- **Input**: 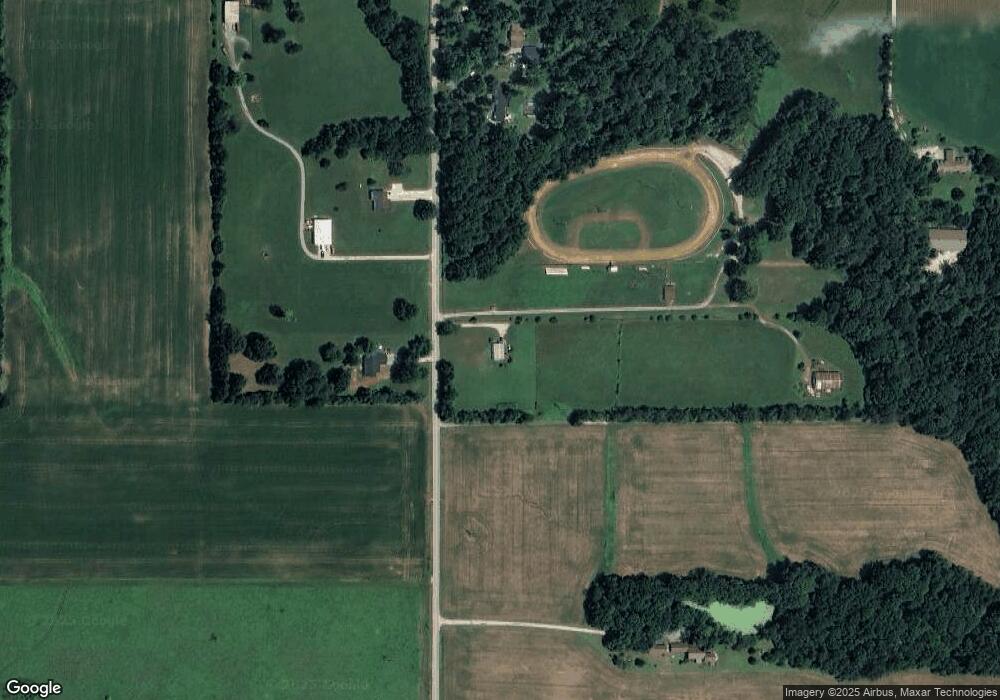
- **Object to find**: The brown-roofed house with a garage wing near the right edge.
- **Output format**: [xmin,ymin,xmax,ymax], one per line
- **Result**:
[939,149,972,173]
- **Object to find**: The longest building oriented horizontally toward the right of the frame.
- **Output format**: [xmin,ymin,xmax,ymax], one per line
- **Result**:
[656,642,718,663]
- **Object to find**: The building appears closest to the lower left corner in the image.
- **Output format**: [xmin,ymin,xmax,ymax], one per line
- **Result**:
[364,350,386,376]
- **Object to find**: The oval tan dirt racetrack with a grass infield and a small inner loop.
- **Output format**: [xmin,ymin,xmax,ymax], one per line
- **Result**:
[525,147,721,265]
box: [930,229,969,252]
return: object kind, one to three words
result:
barn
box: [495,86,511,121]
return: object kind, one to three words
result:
house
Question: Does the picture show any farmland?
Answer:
Yes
